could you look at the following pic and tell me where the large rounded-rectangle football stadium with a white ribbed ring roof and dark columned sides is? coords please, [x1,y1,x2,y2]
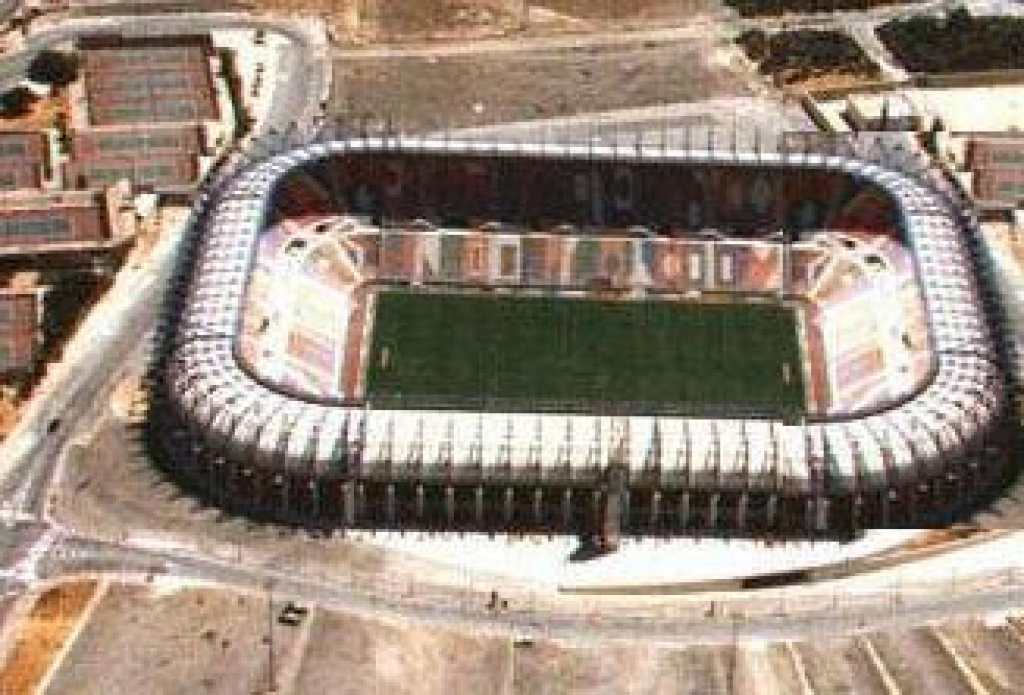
[135,114,1024,560]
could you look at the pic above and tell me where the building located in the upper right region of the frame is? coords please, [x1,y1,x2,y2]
[843,98,913,132]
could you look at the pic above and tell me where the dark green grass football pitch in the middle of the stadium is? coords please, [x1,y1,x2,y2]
[340,284,831,422]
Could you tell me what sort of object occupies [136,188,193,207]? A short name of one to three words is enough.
building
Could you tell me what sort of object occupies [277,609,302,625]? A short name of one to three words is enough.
vehicle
